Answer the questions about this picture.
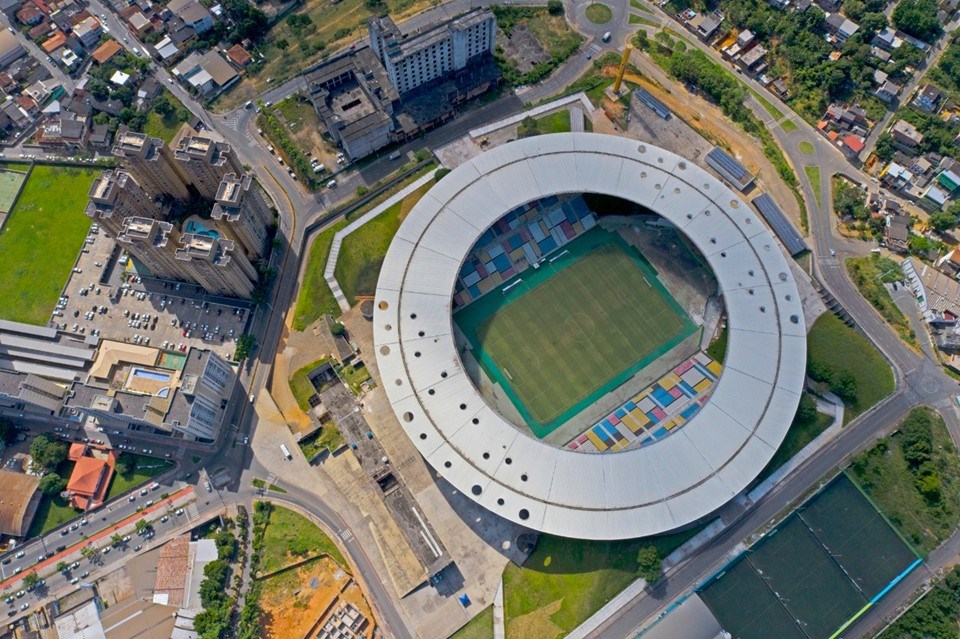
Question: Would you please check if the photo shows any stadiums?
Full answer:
Yes, this view includes a stadium.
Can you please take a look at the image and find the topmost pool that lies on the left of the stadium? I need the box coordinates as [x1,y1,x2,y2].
[187,213,238,250]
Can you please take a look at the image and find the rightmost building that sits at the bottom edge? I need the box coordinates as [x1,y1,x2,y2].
[636,589,732,639]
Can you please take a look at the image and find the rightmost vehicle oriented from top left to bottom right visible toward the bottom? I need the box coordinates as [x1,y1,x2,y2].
[278,442,292,460]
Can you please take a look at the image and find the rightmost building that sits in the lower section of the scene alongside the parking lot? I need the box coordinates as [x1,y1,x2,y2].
[317,379,453,576]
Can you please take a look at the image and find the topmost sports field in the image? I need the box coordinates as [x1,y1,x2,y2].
[0,170,23,212]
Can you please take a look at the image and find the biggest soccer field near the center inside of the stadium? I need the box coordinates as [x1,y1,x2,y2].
[451,224,701,441]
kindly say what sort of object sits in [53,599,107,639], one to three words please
shed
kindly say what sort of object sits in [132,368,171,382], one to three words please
swimming pool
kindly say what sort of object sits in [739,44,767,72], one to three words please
house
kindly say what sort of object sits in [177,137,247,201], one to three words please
building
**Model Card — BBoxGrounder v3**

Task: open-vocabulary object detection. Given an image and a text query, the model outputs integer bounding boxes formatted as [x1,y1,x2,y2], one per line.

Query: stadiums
[374,129,806,539]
